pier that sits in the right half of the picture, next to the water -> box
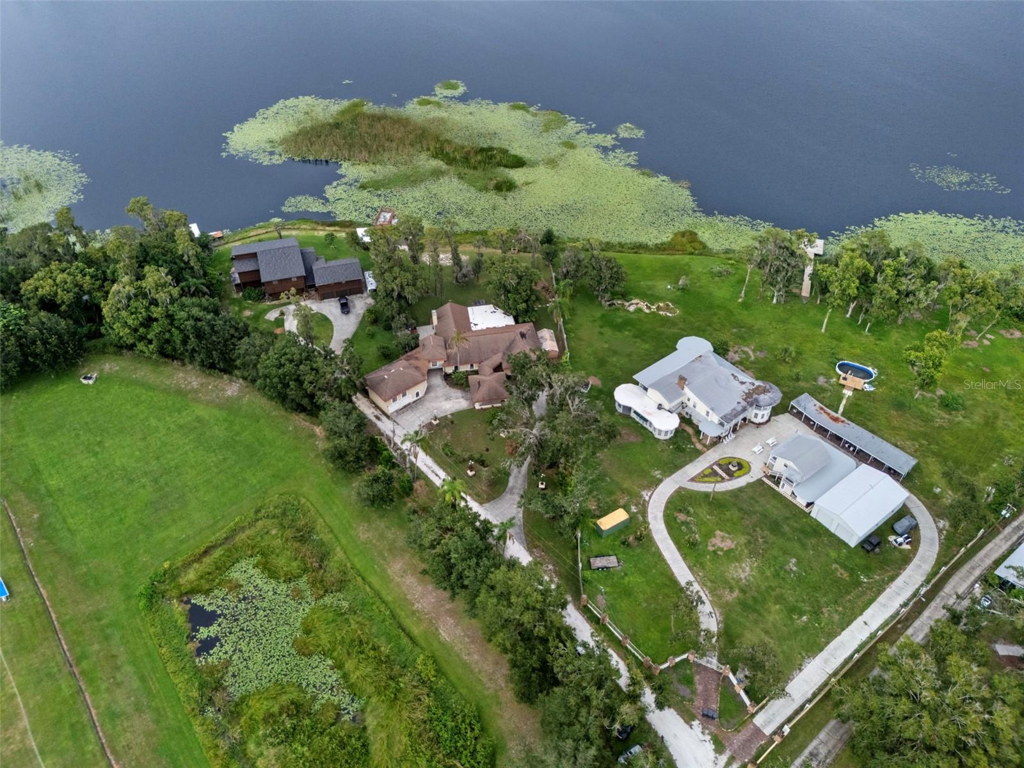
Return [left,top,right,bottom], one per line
[803,240,831,298]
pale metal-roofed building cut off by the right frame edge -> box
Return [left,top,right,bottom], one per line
[995,544,1024,610]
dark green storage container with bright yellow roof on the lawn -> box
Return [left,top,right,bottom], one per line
[598,510,631,540]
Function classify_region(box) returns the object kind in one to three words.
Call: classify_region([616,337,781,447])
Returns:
house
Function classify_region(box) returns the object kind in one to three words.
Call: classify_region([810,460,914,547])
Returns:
barn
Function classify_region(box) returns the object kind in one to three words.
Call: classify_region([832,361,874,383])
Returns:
swimming pool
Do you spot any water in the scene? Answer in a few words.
Yes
